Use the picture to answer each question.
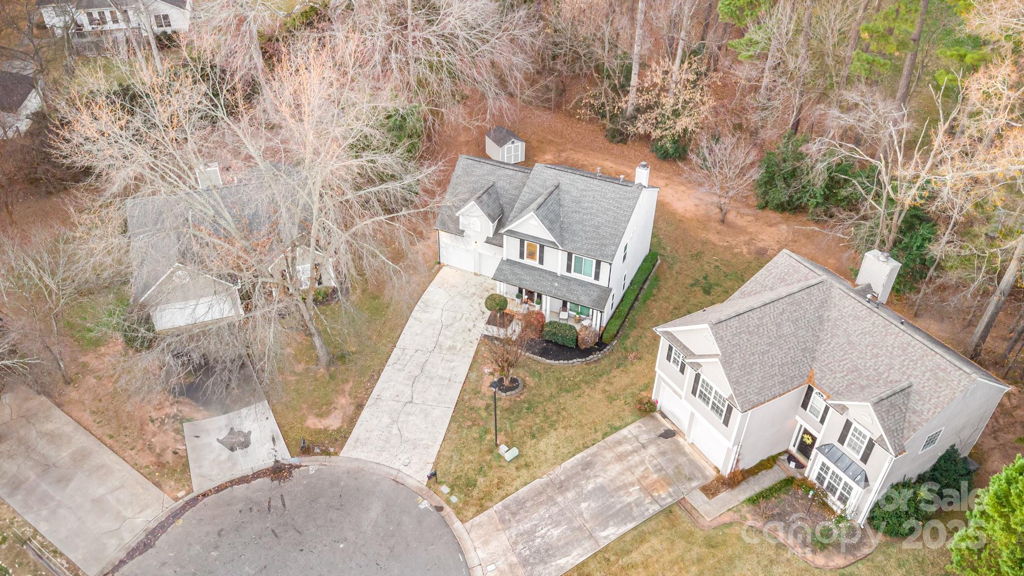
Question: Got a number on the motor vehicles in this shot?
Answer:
zero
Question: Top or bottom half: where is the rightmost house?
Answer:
bottom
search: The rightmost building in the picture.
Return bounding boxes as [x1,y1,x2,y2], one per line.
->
[650,246,1016,528]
